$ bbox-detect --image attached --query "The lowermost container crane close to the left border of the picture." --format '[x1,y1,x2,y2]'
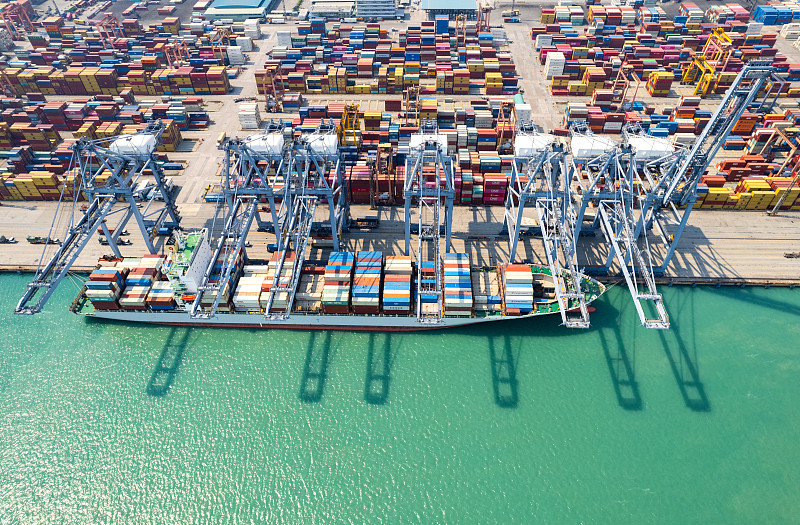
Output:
[10,120,188,321]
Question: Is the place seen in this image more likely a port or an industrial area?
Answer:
port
